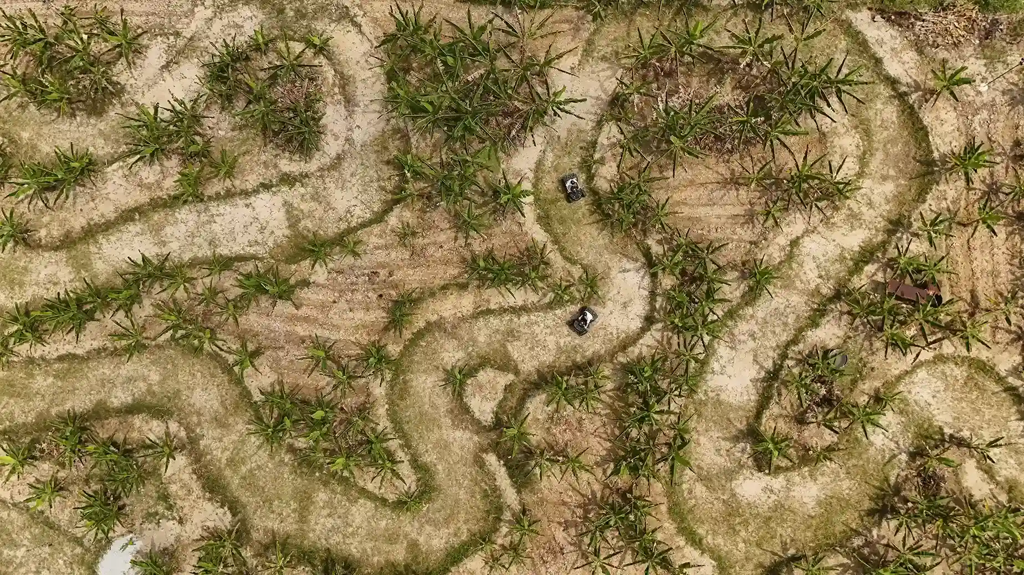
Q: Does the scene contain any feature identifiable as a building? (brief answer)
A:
No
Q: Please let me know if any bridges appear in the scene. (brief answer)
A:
No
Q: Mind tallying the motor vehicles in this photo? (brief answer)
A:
2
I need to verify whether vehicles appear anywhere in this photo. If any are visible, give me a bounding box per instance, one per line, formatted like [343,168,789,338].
[571,307,597,337]
[561,172,584,203]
